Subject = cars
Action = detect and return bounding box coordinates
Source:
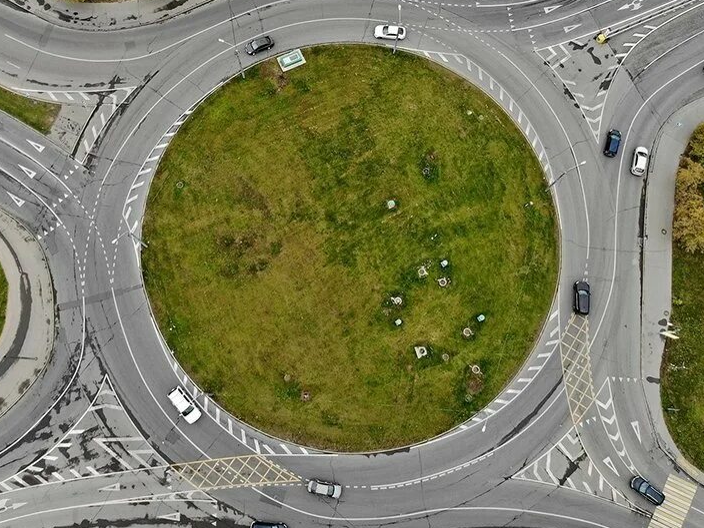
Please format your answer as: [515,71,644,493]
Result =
[168,386,198,425]
[602,129,622,156]
[573,281,591,314]
[374,24,406,41]
[245,36,274,57]
[629,475,667,508]
[251,520,287,528]
[630,145,649,177]
[308,479,342,500]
